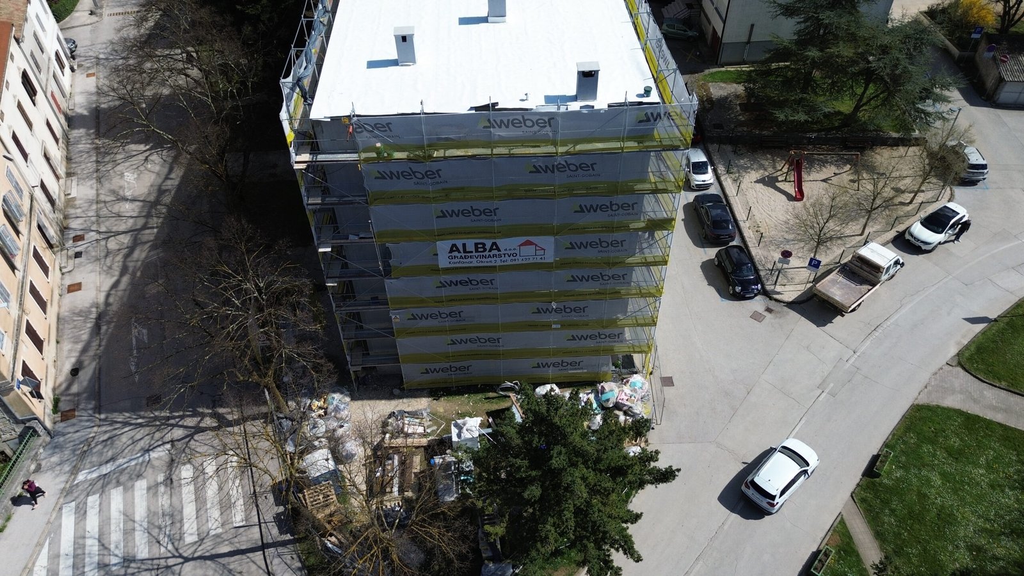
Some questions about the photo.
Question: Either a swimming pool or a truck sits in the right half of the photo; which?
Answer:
truck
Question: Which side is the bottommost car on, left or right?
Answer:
right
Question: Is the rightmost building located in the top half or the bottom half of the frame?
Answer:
top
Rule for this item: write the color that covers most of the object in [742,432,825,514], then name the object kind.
white car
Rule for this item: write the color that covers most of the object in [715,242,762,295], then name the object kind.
black car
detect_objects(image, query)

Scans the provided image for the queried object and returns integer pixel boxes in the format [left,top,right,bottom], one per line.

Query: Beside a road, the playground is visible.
[691,127,959,302]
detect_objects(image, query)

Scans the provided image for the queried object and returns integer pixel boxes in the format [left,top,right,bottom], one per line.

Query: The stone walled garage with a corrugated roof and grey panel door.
[971,30,1024,104]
